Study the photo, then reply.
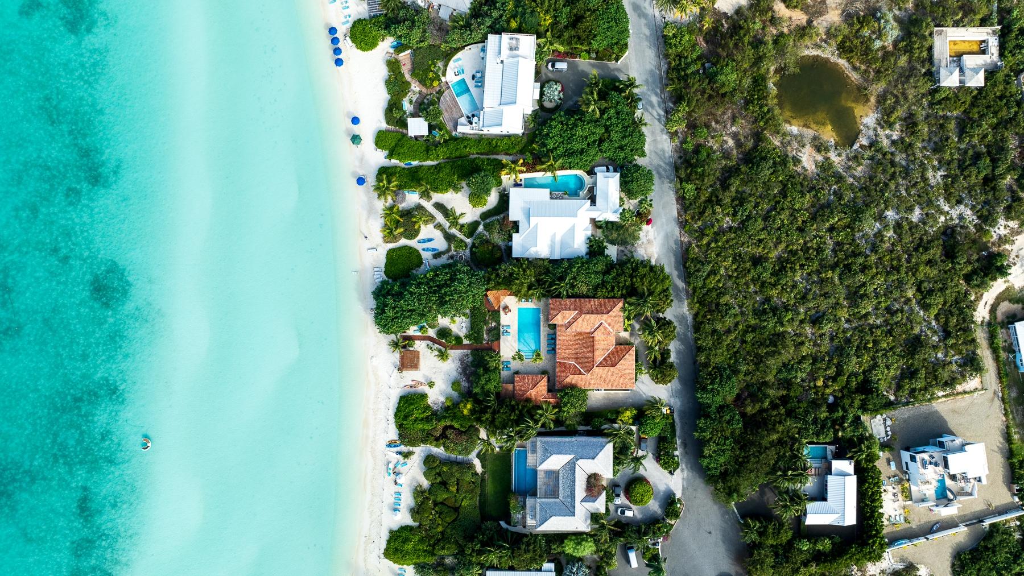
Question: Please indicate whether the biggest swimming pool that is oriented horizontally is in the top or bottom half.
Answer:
top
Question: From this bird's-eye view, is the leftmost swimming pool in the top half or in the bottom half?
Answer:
top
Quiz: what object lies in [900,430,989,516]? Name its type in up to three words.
house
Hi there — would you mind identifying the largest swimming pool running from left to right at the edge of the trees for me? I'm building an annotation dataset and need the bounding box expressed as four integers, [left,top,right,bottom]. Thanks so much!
[523,173,586,197]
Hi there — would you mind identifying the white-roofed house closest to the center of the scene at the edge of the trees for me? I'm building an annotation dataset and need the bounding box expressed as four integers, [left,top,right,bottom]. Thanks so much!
[509,172,623,259]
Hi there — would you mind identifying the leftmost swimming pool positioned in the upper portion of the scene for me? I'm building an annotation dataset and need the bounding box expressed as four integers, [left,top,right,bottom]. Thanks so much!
[448,75,481,117]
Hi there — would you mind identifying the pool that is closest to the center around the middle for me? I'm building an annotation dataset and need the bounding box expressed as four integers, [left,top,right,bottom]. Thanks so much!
[517,307,542,361]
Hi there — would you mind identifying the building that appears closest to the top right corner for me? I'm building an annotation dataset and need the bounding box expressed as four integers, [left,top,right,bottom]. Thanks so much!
[928,26,1004,89]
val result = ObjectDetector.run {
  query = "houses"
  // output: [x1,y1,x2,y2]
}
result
[457,33,540,136]
[549,298,635,392]
[900,430,989,516]
[928,26,1004,89]
[526,436,613,531]
[802,459,857,526]
[1008,320,1024,373]
[509,172,623,259]
[486,563,555,576]
[431,0,472,22]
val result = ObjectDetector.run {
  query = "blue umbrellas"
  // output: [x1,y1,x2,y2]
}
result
[357,177,366,186]
[329,27,338,36]
[331,37,340,46]
[333,47,343,57]
[335,58,344,67]
[351,116,360,125]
